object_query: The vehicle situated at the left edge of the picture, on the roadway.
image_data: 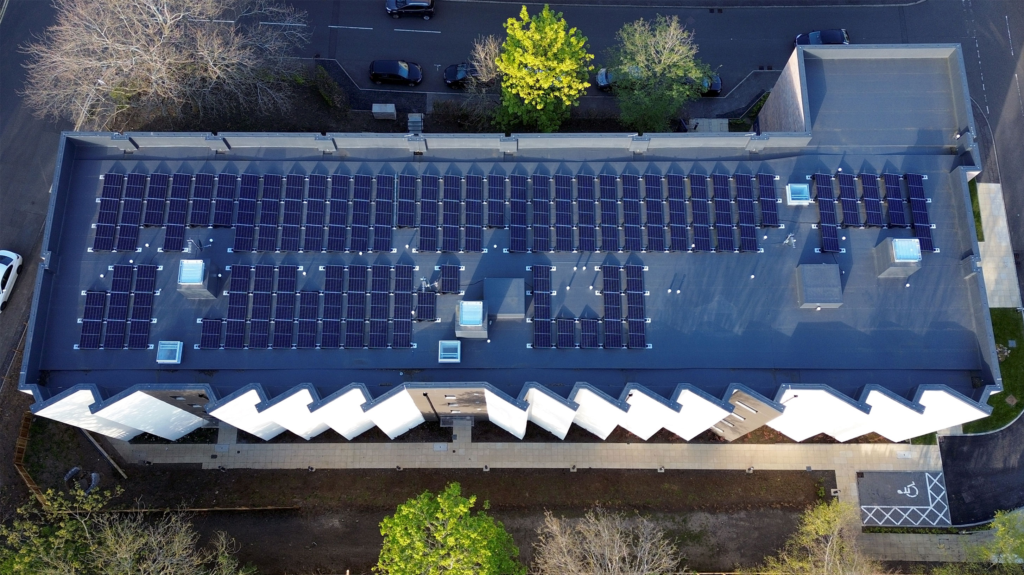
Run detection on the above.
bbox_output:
[0,253,26,308]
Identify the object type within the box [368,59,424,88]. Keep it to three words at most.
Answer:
car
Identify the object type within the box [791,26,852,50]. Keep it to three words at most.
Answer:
car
